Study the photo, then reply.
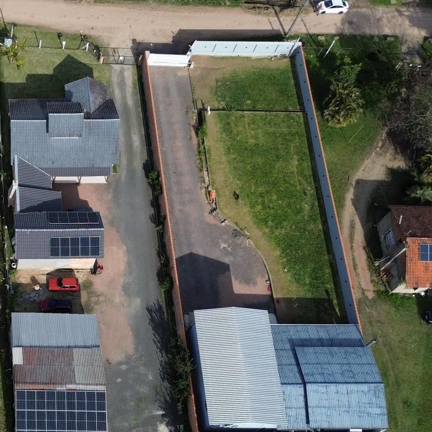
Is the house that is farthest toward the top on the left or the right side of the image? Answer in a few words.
left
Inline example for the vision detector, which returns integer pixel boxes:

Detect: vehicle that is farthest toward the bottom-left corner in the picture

[39,295,74,313]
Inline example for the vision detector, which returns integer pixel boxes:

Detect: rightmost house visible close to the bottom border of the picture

[270,323,387,432]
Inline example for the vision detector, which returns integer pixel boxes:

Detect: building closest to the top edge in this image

[6,76,120,213]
